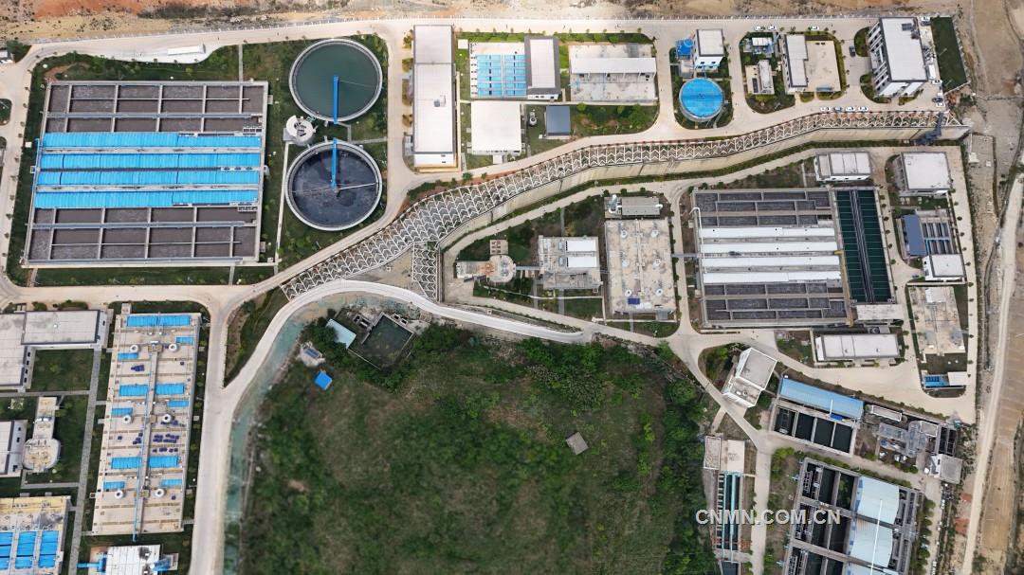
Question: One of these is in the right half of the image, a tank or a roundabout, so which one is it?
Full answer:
You can see a tank in the right half of the image.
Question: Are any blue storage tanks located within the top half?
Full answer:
Yes, a blue storage tank appears within the top half.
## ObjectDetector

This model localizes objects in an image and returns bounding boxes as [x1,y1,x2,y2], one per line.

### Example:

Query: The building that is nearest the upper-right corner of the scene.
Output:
[866,16,929,96]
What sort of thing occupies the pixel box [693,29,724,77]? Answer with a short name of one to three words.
house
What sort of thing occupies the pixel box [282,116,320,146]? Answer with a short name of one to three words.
building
